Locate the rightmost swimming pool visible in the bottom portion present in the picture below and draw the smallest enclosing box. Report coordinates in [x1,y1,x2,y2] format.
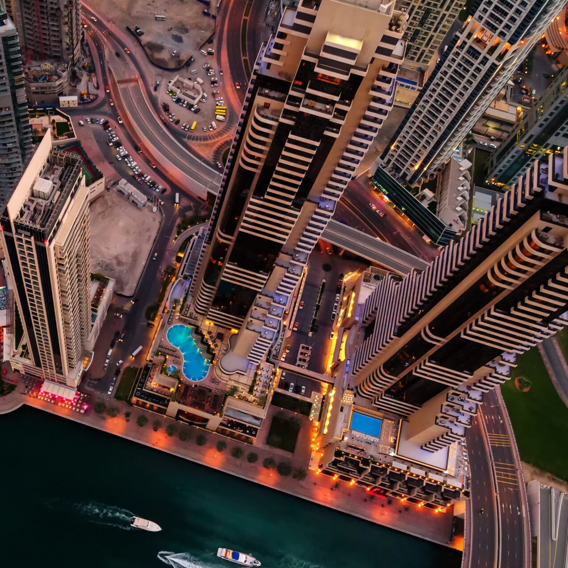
[350,413,382,436]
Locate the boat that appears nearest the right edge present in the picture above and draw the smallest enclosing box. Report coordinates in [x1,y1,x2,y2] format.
[218,547,261,566]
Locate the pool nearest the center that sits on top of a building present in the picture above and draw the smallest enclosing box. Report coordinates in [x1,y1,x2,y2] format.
[167,324,211,381]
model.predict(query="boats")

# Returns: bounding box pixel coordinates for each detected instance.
[218,547,261,566]
[131,518,161,530]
